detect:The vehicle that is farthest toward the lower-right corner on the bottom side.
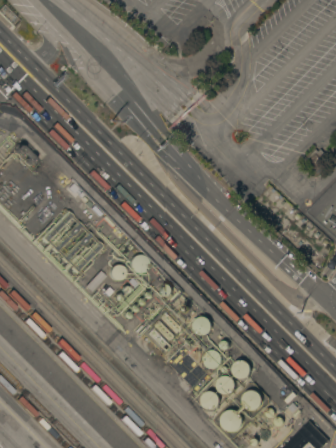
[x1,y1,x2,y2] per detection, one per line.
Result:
[308,390,336,419]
